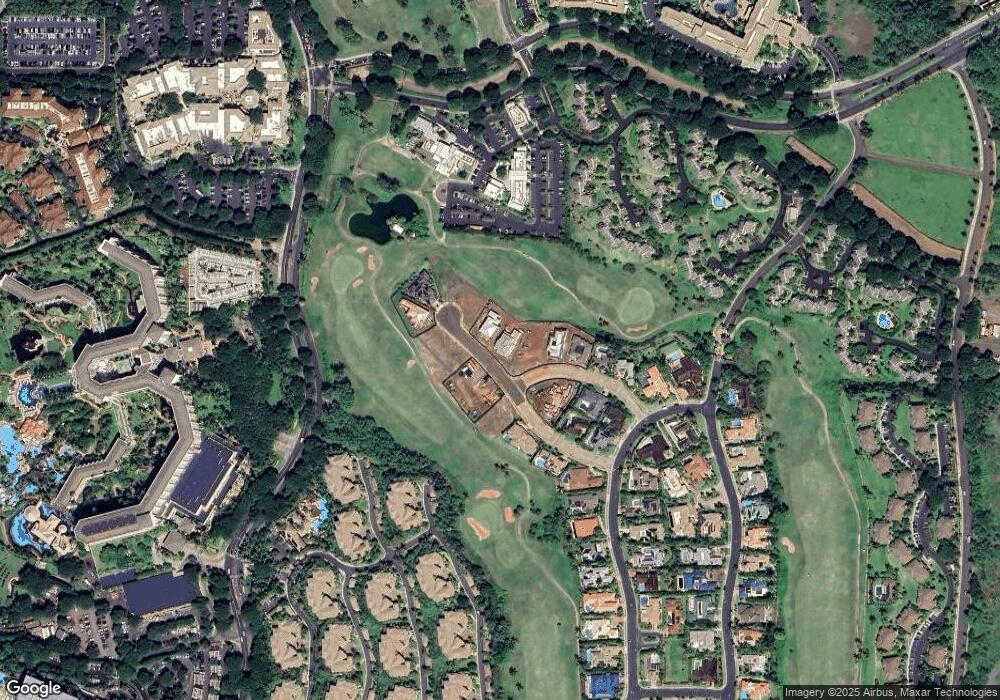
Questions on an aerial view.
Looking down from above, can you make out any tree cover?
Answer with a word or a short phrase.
Yes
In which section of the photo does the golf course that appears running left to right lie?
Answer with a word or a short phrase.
top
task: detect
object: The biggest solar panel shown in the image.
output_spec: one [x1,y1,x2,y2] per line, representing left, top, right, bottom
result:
[171,441,233,512]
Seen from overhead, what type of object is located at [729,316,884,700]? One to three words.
golf course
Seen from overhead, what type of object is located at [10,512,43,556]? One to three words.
swimming pool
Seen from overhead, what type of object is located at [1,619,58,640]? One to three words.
building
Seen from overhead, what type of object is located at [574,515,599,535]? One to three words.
house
